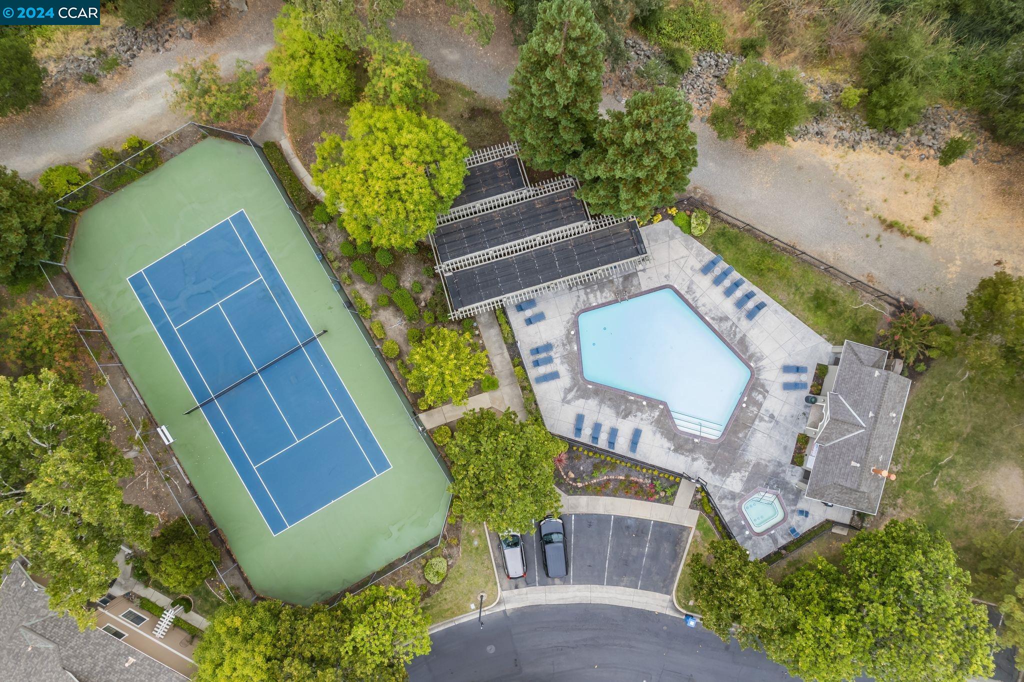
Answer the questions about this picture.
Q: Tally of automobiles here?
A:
2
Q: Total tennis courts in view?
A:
one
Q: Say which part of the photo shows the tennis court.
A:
left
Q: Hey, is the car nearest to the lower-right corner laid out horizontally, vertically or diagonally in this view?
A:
vertically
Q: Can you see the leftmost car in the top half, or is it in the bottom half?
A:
bottom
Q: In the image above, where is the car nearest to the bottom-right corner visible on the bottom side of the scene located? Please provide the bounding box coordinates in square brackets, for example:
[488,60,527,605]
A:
[539,515,568,579]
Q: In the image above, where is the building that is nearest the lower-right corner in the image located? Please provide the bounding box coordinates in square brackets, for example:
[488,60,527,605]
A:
[798,339,912,515]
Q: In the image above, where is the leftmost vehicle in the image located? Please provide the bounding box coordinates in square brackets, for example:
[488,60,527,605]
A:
[498,527,526,585]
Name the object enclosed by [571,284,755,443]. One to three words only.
swimming pool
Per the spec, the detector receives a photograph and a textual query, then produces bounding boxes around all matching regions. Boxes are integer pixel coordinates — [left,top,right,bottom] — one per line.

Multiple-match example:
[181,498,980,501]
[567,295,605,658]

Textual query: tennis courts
[66,136,454,606]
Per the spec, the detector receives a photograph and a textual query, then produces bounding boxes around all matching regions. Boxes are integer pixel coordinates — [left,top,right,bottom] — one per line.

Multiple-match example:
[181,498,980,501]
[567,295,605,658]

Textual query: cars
[539,515,568,579]
[498,527,526,585]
